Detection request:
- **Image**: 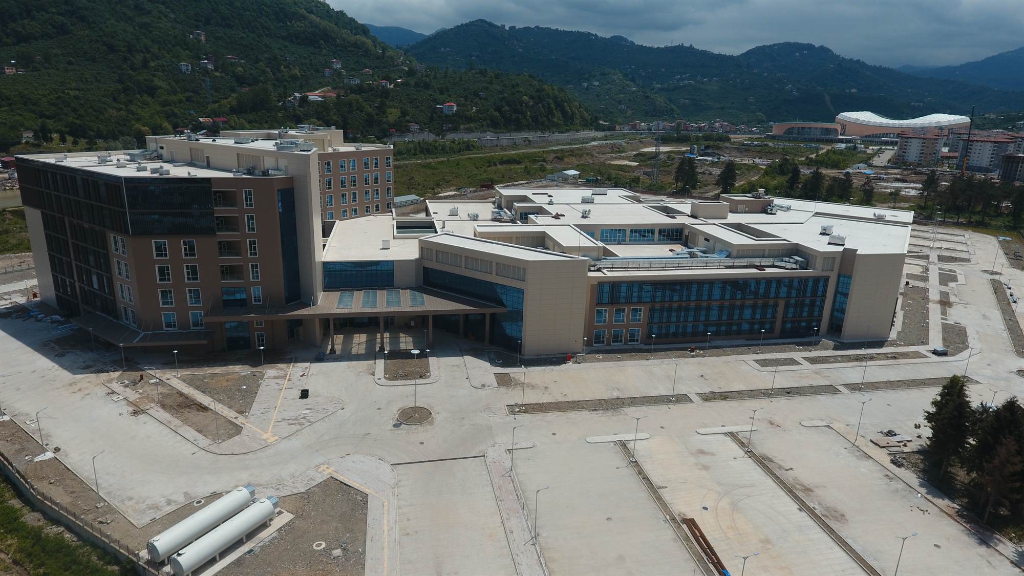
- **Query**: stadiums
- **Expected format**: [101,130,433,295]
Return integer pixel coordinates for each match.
[830,111,968,152]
